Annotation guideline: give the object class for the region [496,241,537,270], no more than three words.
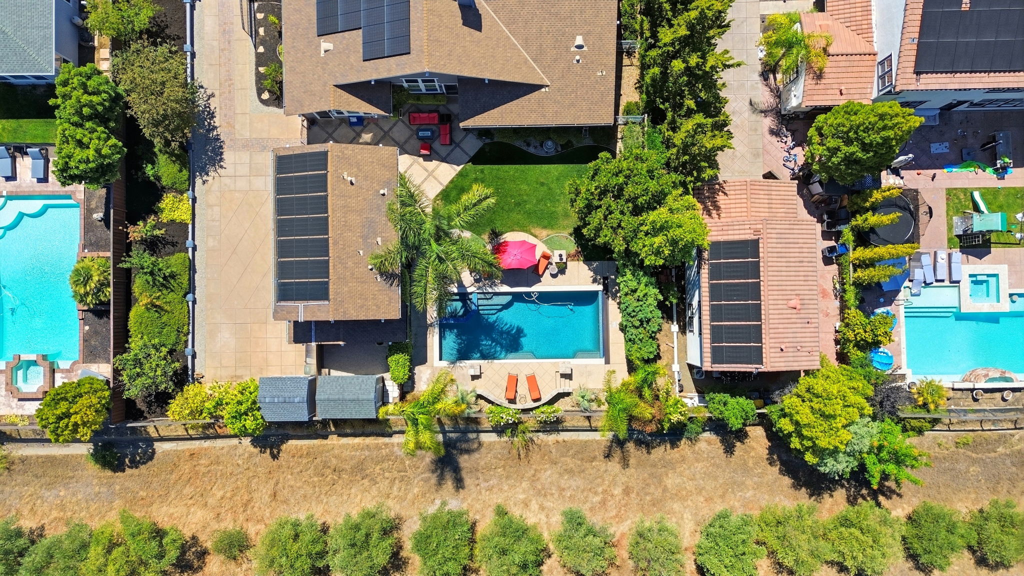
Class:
umbrella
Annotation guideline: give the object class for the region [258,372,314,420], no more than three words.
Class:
shed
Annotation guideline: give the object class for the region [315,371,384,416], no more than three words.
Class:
shed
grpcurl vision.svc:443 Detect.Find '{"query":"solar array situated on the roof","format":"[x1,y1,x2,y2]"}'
[315,0,409,59]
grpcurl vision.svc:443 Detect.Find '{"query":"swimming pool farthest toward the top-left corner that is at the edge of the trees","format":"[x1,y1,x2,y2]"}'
[0,191,84,365]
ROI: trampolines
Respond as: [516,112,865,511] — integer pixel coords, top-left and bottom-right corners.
[861,188,932,247]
